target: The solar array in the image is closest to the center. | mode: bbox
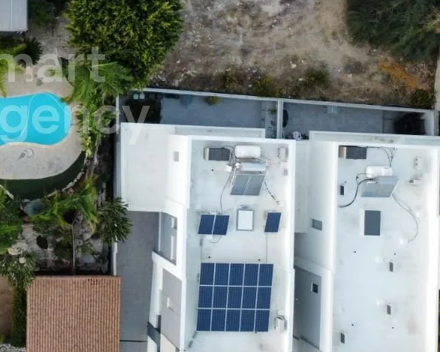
[197,214,229,235]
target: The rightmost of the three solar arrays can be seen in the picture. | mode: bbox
[264,211,282,232]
